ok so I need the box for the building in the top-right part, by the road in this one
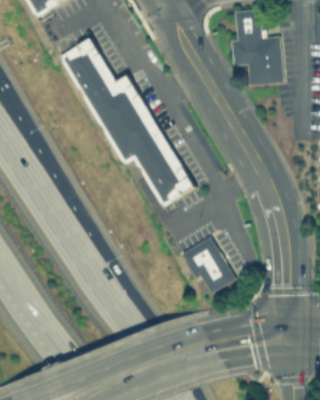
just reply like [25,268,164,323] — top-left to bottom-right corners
[232,10,283,85]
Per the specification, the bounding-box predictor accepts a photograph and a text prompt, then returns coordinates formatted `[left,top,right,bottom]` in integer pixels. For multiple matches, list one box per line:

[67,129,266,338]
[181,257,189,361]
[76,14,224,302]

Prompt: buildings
[25,0,63,17]
[62,38,193,208]
[232,10,283,85]
[184,236,236,292]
